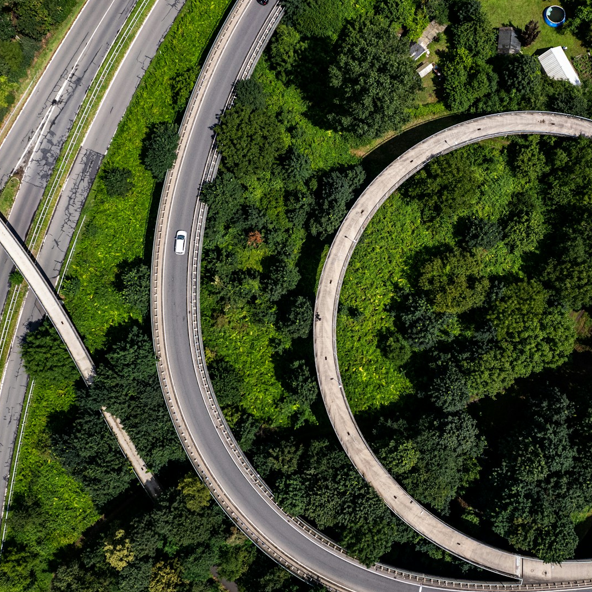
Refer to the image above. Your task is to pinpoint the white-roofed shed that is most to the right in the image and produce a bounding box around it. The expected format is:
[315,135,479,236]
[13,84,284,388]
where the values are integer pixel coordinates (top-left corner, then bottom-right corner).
[536,46,579,91]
